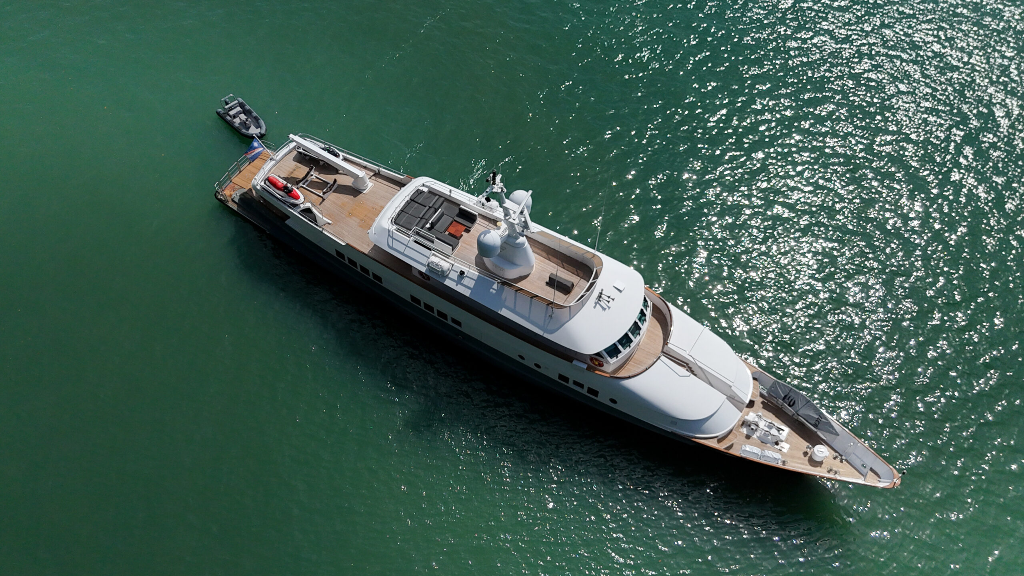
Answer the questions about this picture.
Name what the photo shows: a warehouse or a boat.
boat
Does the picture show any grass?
No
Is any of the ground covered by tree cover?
No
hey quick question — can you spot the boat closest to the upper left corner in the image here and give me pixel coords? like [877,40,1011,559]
[219,92,266,139]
